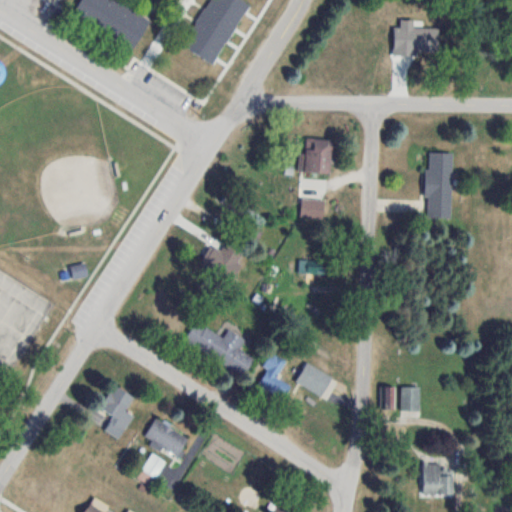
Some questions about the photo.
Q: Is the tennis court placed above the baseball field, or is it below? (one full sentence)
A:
The tennis court is found below the baseball field in the photo.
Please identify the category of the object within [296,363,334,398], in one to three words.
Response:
building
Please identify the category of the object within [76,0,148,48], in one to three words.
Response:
building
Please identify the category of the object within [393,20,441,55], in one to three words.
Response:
house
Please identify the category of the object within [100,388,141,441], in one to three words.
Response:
house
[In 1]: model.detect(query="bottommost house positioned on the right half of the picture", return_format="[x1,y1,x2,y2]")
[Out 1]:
[420,464,456,498]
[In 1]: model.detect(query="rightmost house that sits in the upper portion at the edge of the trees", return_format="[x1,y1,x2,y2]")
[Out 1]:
[424,152,454,219]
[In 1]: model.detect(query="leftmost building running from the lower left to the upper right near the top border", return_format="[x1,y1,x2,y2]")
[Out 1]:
[188,0,250,63]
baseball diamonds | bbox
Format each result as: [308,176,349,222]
[0,86,121,247]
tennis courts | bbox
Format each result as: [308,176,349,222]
[0,270,49,363]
